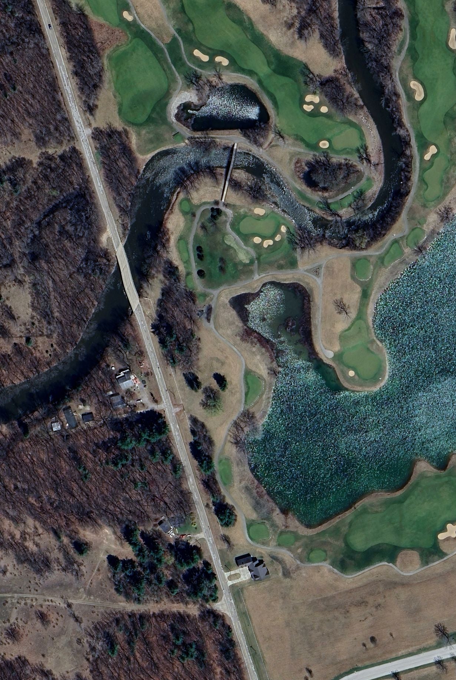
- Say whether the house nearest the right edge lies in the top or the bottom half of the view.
bottom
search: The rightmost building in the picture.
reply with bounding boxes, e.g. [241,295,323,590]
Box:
[236,555,270,583]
